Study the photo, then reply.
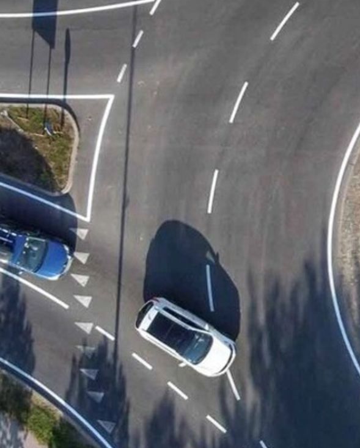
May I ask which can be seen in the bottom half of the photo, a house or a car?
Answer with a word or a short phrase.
car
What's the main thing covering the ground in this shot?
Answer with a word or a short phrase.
paved ground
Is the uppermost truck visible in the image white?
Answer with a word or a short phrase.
No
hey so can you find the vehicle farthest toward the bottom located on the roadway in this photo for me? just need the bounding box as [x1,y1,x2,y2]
[134,297,237,374]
